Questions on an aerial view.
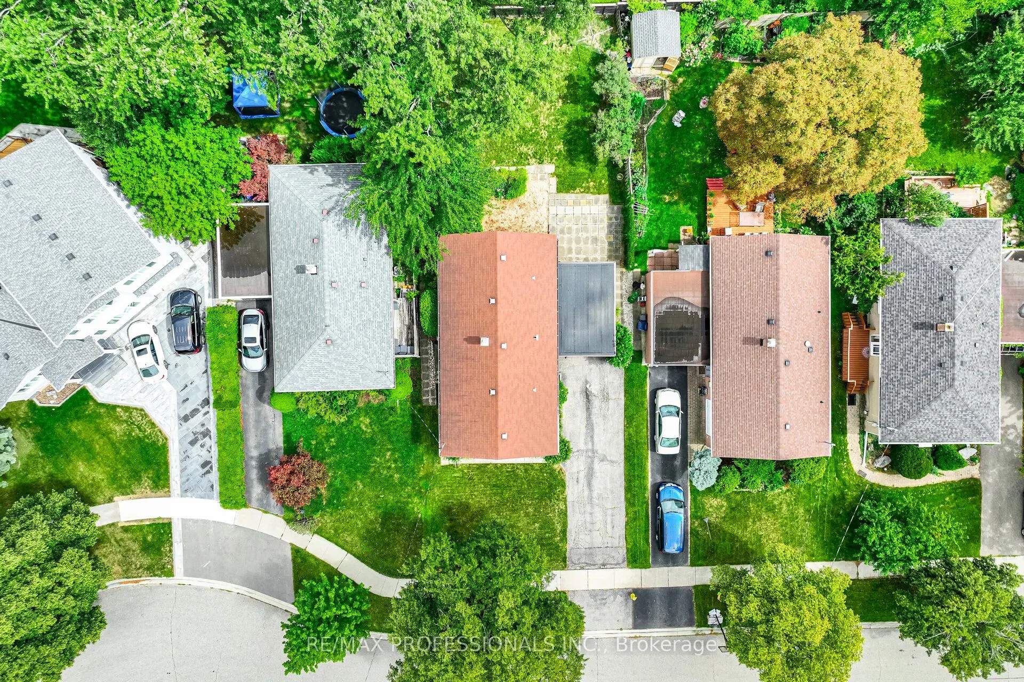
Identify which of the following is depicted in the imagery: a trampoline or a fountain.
trampoline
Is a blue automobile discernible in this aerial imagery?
Yes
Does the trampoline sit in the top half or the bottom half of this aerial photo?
top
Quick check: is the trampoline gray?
No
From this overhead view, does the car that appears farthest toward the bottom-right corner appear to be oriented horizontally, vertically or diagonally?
vertically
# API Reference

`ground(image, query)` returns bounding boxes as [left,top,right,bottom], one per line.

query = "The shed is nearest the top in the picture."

[630,8,682,78]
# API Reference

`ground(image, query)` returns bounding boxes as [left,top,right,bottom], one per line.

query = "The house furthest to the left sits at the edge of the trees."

[0,128,193,409]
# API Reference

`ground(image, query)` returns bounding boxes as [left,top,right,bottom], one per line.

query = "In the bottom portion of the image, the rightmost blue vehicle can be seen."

[655,482,688,555]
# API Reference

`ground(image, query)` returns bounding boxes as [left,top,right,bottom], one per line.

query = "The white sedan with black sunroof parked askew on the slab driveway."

[122,317,167,384]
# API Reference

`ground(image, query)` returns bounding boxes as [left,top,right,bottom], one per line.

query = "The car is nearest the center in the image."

[654,388,685,455]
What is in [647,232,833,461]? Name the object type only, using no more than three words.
house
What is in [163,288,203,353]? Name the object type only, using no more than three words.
car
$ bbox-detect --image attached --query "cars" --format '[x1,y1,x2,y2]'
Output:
[122,317,167,384]
[163,288,203,353]
[234,308,267,372]
[654,388,685,455]
[655,482,688,555]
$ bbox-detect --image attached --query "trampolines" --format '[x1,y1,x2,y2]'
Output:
[318,78,367,138]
